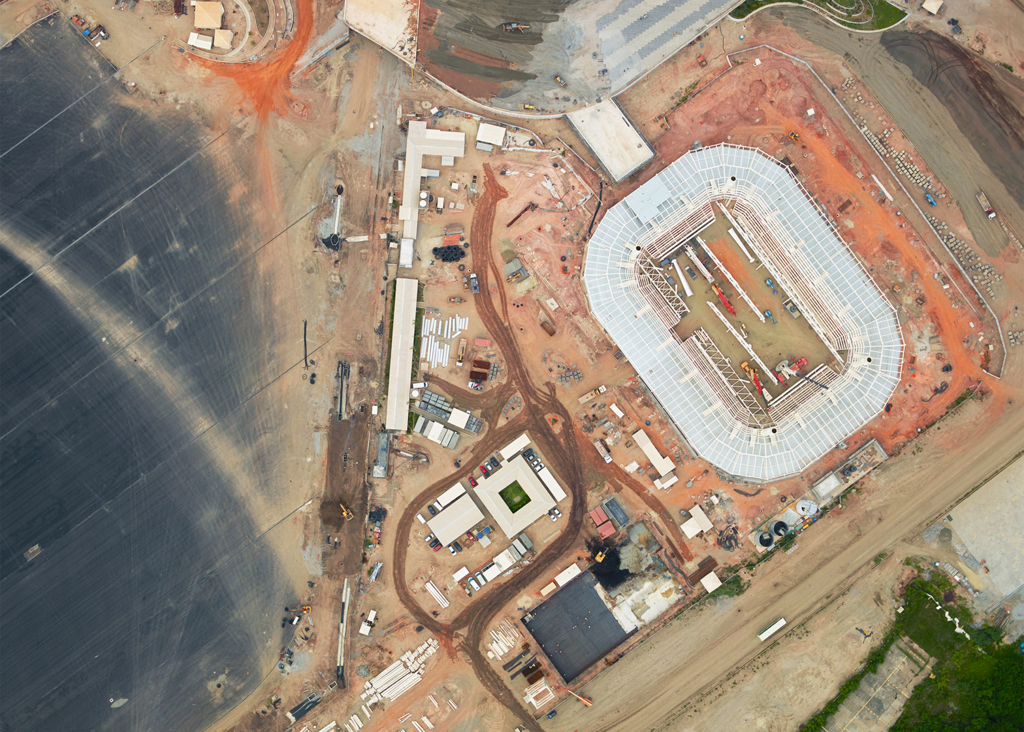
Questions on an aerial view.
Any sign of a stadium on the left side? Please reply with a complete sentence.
No, no stadium appears on the left side.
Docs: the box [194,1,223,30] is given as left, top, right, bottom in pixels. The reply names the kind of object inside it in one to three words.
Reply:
building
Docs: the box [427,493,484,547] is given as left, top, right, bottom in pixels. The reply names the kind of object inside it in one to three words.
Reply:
building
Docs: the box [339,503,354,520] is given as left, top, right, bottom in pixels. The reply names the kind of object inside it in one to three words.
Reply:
work vehicle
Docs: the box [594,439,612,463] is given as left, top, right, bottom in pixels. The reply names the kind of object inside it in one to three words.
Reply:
vehicle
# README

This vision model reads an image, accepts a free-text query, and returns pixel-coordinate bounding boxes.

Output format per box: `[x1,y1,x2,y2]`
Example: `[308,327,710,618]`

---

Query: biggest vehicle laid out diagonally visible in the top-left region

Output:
[88,22,107,40]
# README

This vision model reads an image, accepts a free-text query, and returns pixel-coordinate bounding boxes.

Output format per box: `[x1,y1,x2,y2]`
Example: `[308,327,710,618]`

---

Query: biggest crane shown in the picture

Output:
[776,354,832,391]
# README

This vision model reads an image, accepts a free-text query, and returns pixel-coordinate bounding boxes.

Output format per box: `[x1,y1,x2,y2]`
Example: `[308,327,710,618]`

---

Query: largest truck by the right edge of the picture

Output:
[975,191,997,220]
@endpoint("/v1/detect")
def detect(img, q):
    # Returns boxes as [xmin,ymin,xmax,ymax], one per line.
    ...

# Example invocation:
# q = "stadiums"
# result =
[577,141,907,481]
